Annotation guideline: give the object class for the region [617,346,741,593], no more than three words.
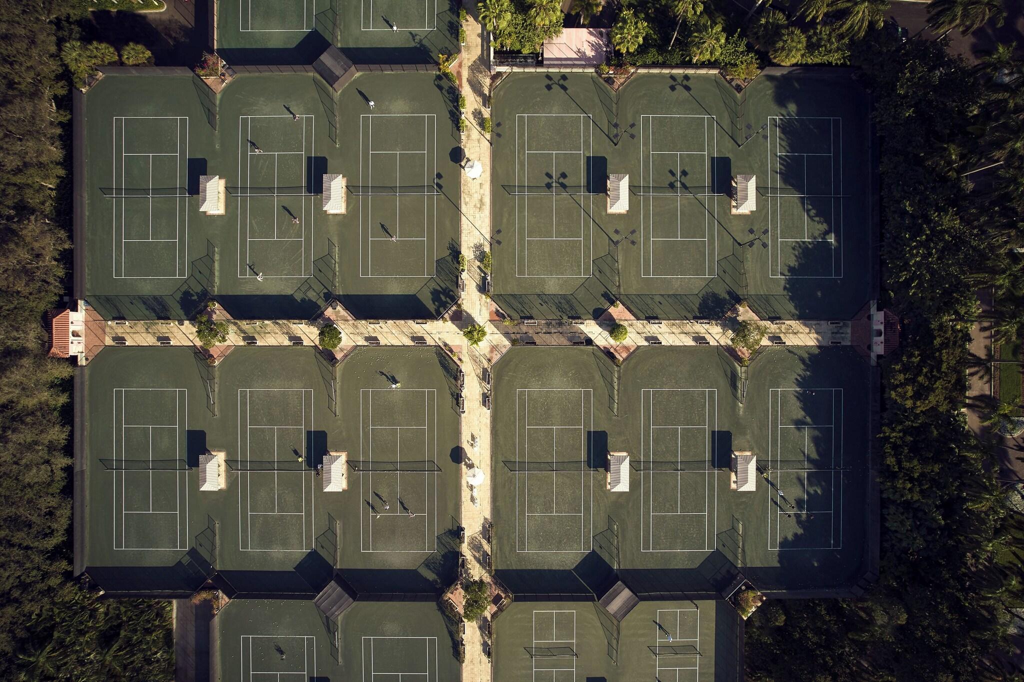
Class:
tennis court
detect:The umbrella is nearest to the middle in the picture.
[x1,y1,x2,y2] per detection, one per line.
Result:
[467,466,485,484]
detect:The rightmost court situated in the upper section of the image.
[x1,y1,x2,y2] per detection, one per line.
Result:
[741,74,869,320]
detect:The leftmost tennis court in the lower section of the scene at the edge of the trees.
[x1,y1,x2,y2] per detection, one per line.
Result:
[86,346,217,593]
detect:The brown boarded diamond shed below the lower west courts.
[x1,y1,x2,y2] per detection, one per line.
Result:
[313,578,355,620]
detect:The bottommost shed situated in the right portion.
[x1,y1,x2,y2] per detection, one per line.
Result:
[600,578,642,620]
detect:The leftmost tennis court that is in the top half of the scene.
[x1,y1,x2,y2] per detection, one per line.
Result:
[86,74,217,320]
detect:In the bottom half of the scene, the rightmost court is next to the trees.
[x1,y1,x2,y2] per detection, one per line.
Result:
[741,346,869,593]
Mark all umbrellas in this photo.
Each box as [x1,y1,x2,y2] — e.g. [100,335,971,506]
[465,162,483,180]
[467,466,485,484]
